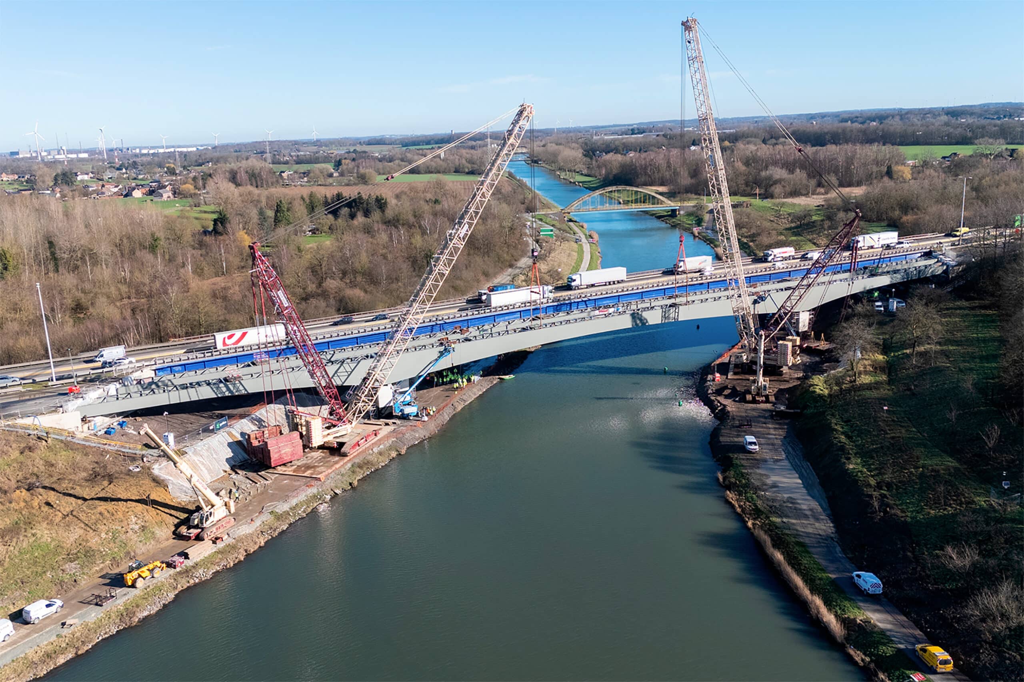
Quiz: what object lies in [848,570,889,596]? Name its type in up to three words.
vehicle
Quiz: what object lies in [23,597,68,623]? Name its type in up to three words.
vehicle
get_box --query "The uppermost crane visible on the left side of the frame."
[248,93,537,457]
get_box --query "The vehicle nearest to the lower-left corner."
[0,619,24,640]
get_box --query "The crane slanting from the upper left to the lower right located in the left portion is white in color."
[135,419,240,537]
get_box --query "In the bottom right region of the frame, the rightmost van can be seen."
[911,643,962,676]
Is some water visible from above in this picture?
Yes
